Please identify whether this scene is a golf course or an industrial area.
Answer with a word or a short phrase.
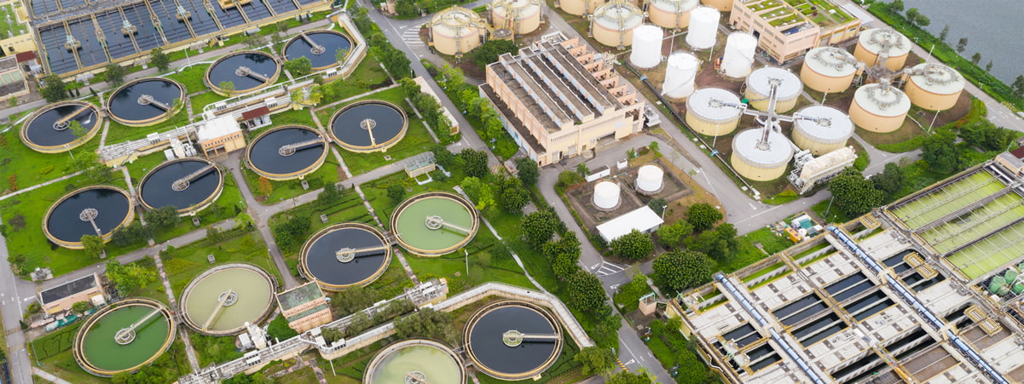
industrial area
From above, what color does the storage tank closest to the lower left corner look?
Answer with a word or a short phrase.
green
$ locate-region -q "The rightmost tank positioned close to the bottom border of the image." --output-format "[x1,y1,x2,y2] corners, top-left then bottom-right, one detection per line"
[462,297,564,381]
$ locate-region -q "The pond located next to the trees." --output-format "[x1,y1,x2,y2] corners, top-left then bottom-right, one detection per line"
[881,155,1024,285]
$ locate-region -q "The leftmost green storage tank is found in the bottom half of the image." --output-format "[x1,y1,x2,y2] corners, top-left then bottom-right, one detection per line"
[73,296,178,378]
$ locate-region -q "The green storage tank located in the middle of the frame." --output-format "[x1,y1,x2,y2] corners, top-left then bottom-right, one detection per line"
[390,189,479,256]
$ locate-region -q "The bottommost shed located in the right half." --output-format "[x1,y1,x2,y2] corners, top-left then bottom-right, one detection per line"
[639,292,658,315]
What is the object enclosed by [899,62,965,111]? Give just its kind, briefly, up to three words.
storage tank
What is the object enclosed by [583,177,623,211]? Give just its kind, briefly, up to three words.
storage tank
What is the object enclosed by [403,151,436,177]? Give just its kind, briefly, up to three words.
shed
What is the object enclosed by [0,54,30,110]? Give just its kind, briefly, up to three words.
building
